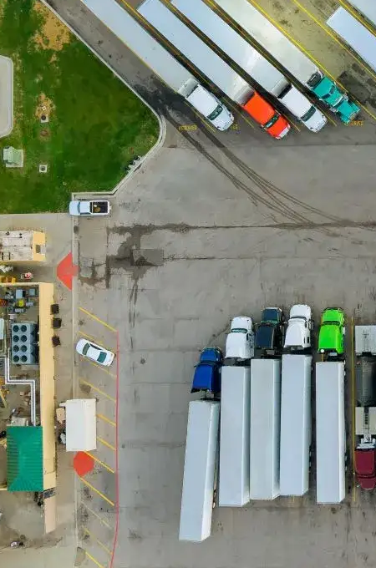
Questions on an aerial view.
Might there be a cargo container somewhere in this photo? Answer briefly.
Yes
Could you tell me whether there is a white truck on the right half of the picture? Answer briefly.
Yes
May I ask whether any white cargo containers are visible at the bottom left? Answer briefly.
Yes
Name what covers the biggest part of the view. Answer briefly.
paved ground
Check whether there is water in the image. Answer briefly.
No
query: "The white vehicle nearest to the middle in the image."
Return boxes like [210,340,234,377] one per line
[226,316,256,365]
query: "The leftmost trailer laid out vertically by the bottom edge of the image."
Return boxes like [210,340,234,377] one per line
[180,398,221,541]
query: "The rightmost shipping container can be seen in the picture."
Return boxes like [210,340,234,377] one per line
[66,397,97,451]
